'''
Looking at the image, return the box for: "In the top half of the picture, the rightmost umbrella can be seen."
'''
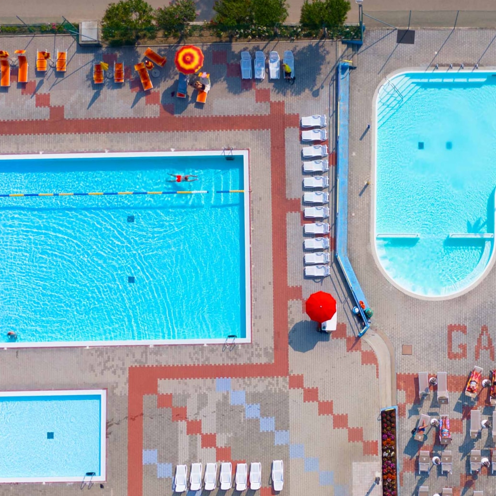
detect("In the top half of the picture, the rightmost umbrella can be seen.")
[175,46,206,76]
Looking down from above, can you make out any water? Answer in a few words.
Yes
